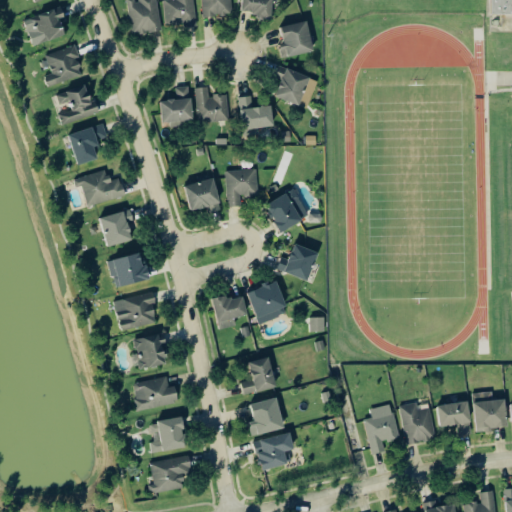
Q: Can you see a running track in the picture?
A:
Yes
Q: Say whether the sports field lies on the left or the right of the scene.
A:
right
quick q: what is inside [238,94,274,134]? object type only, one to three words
house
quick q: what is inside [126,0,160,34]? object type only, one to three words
house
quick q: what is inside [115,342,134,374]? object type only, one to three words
swimming pool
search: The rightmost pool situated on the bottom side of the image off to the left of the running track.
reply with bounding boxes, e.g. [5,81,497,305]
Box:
[260,316,292,340]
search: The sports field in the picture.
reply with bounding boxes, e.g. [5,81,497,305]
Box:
[367,84,466,300]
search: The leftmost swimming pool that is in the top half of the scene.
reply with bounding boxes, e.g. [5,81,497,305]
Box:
[67,180,87,211]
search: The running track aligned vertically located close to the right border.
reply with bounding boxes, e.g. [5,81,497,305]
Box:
[344,24,490,360]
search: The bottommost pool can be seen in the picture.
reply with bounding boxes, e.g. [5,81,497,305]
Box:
[132,436,145,456]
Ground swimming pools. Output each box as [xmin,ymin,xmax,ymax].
[260,316,292,340]
[115,342,134,374]
[67,180,87,211]
[132,436,145,456]
[295,181,319,210]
